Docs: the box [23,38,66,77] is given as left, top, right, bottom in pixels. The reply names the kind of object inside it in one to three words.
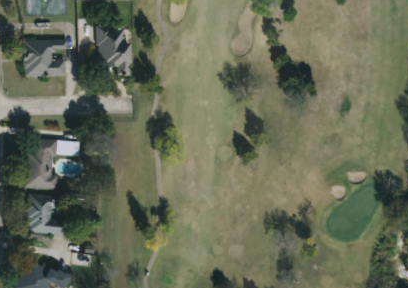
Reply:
house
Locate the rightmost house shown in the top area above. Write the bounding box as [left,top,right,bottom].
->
[82,24,134,78]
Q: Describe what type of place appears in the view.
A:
golf course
